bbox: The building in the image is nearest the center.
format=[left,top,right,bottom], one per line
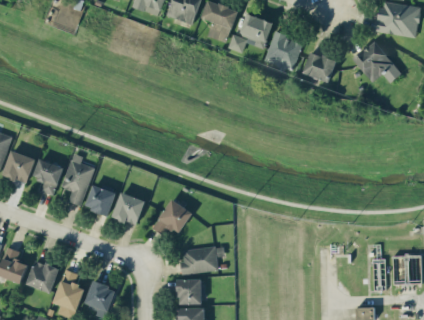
[152,200,192,234]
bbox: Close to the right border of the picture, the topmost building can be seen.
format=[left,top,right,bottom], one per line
[376,2,419,36]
